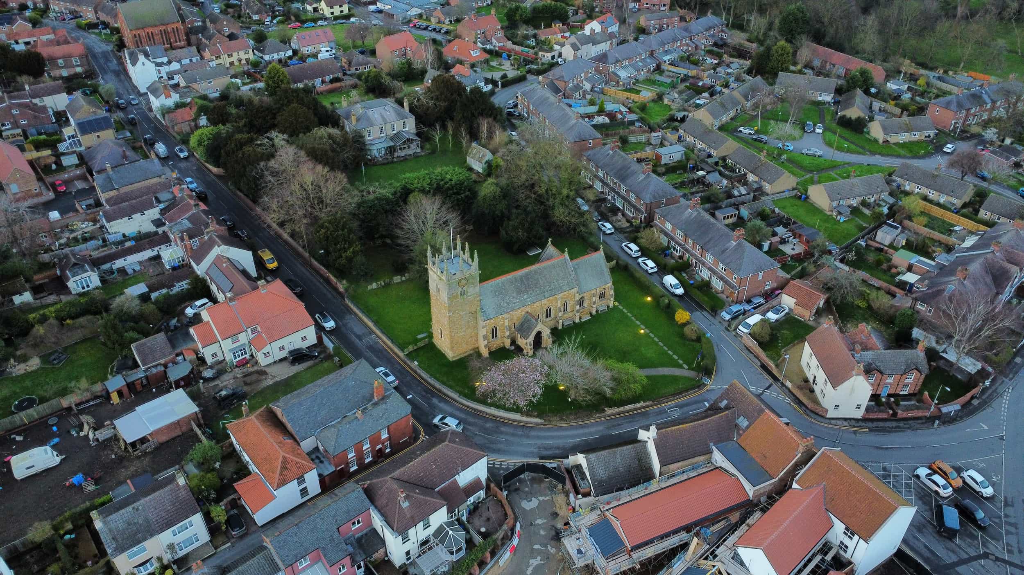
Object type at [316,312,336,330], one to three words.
car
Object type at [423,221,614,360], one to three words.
church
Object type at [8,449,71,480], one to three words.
camper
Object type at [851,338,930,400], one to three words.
house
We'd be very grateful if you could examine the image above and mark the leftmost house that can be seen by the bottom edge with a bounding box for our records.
[89,467,209,575]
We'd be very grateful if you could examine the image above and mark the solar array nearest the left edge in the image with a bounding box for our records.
[76,114,113,134]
